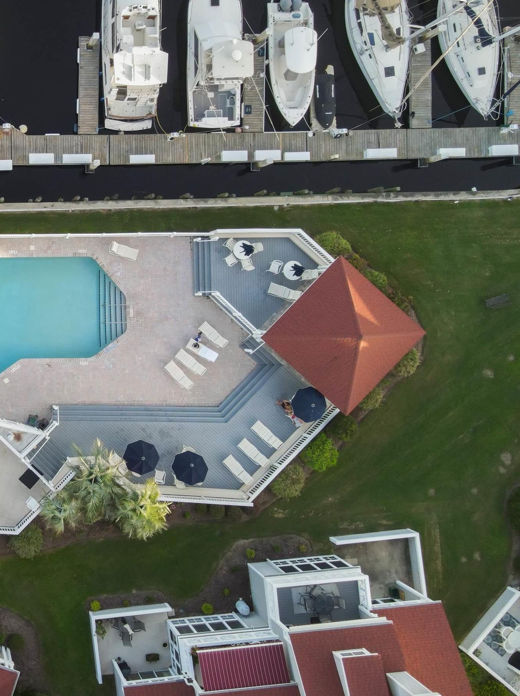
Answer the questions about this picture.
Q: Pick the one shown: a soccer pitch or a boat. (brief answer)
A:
boat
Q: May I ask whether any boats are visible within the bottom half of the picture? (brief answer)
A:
No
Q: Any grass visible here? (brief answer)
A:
Yes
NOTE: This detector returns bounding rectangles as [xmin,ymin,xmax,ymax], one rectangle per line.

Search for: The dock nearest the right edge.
[501,27,520,127]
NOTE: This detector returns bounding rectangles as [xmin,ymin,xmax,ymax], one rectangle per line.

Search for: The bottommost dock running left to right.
[0,126,520,168]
